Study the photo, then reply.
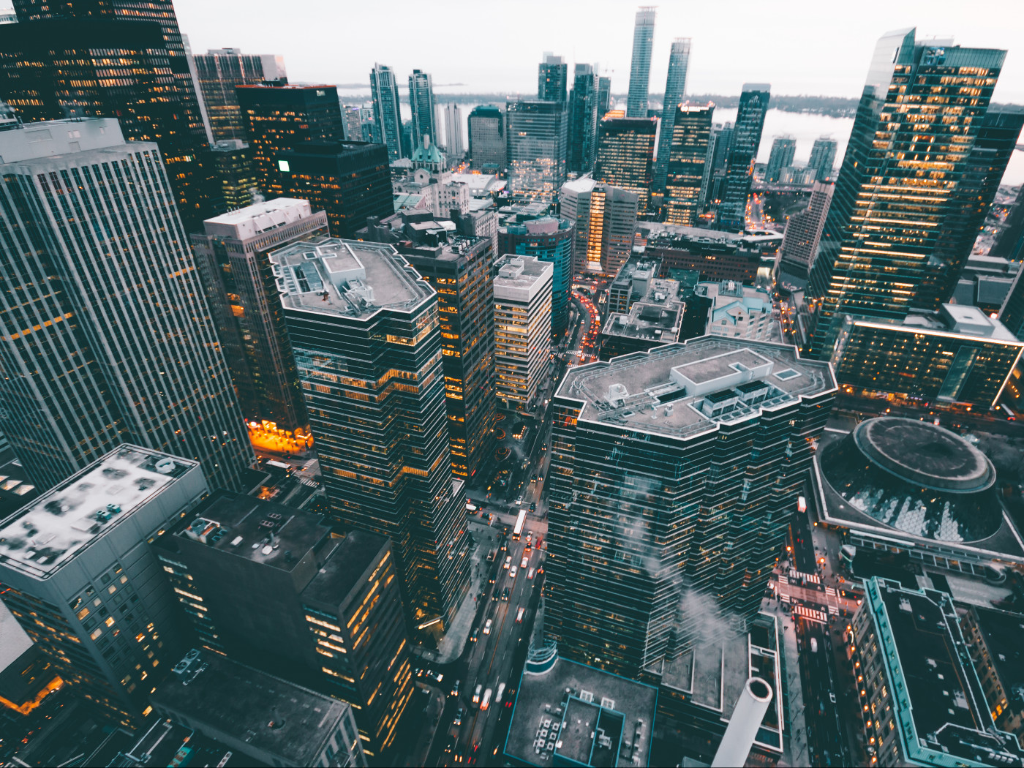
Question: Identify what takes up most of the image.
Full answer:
What you mostly see from above here is buildings.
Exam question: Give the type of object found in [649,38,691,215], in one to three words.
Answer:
building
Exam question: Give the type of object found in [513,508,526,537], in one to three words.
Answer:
vehicle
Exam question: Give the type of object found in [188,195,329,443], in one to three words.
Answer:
building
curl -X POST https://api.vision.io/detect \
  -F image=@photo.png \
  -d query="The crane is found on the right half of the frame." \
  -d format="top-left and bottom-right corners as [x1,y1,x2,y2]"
[605,377,636,422]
